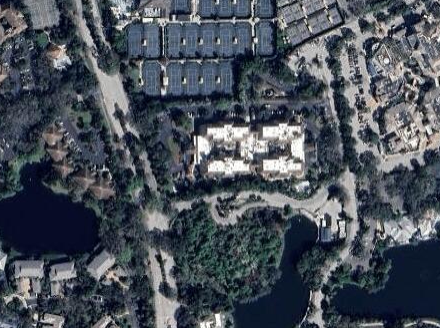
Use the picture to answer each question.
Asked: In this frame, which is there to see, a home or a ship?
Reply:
home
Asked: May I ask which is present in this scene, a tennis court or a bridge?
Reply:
tennis court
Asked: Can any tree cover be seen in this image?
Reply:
Yes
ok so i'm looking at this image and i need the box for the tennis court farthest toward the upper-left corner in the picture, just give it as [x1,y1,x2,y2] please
[27,0,60,29]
